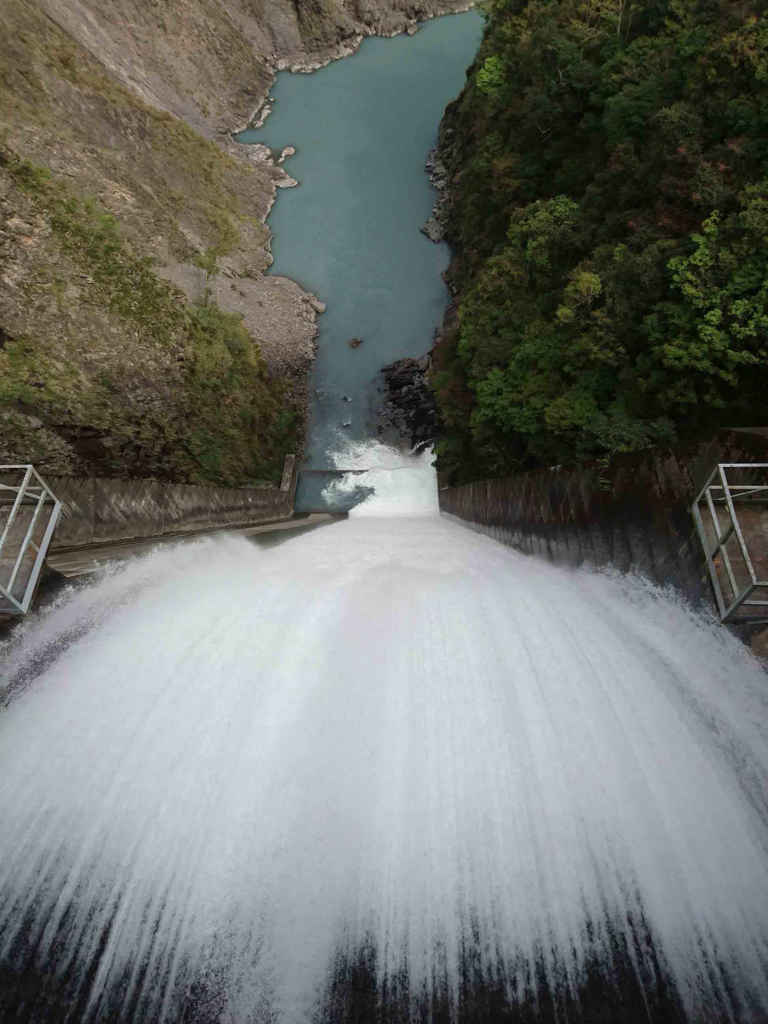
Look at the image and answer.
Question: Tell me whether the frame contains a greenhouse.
No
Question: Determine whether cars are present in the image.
No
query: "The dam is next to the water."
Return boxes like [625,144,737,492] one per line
[0,512,347,690]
